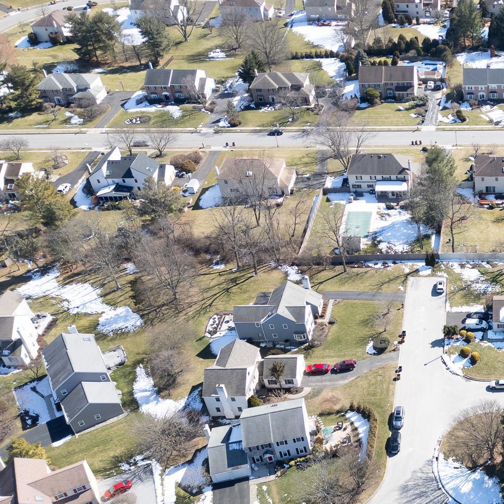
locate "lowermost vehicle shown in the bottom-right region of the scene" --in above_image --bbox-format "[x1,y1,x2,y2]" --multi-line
[388,433,400,455]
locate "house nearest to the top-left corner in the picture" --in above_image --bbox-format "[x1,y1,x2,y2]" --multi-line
[31,10,81,44]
